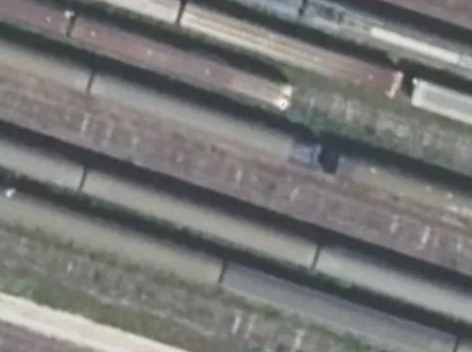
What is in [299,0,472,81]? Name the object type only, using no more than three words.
rail car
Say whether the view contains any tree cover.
No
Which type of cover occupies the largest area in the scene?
paved ground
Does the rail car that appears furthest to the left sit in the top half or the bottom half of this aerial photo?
top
